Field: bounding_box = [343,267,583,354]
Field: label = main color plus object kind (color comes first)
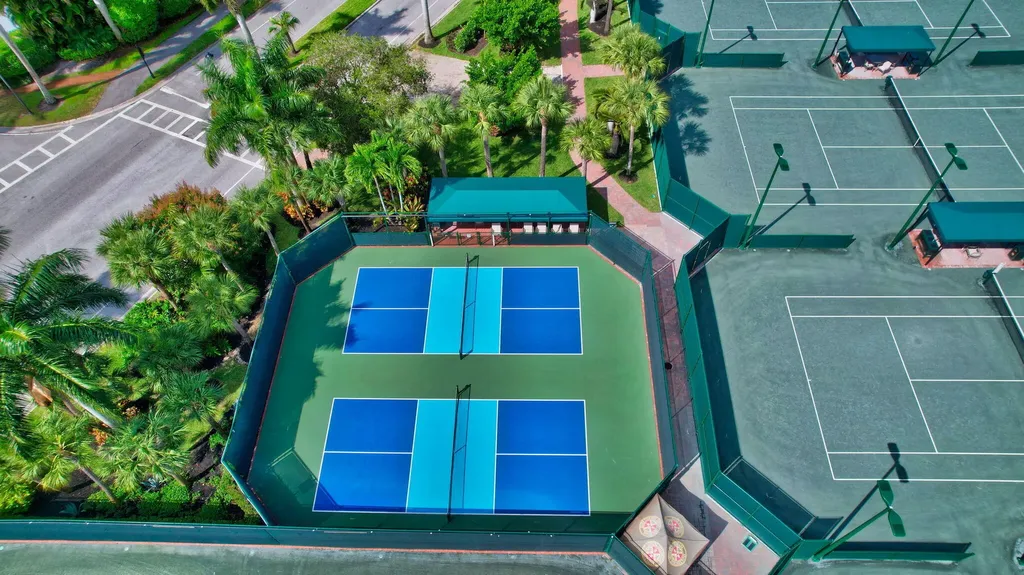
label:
blue sports court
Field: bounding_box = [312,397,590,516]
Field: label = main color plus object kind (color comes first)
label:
blue sports court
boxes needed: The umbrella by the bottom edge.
[621,495,710,575]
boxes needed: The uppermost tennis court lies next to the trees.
[638,0,1024,68]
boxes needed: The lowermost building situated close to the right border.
[907,203,1024,270]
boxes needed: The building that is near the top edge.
[830,26,936,81]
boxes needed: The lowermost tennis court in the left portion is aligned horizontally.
[0,544,627,575]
